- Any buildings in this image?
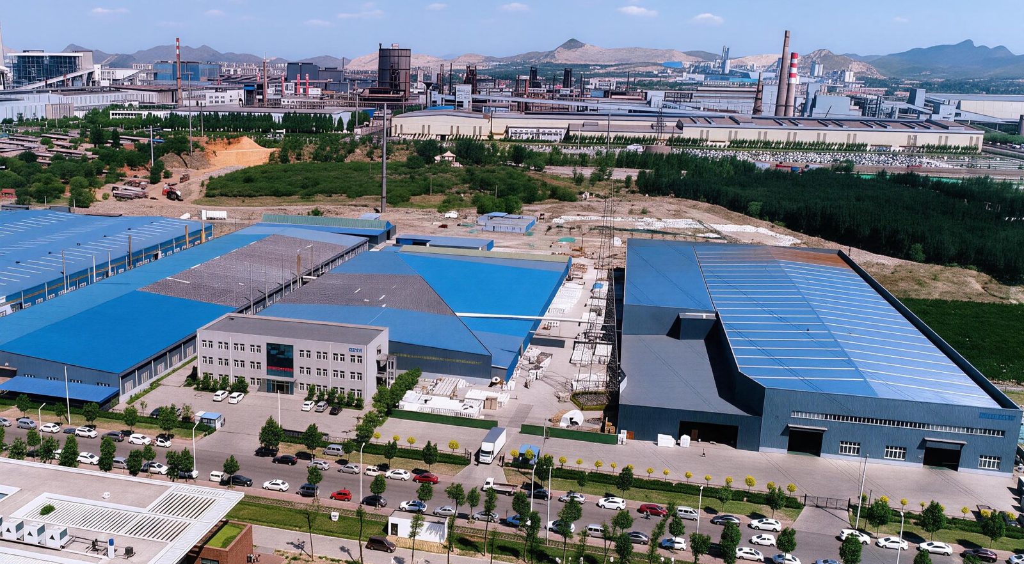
Yes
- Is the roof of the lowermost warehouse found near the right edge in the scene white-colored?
No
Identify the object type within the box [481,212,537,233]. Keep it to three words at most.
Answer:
shed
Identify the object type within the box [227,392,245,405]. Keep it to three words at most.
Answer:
vehicle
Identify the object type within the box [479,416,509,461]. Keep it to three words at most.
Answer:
truck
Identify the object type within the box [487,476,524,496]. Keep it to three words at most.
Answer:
vehicle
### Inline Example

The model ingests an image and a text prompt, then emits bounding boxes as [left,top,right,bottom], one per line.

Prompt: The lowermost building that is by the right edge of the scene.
[695,242,1024,481]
